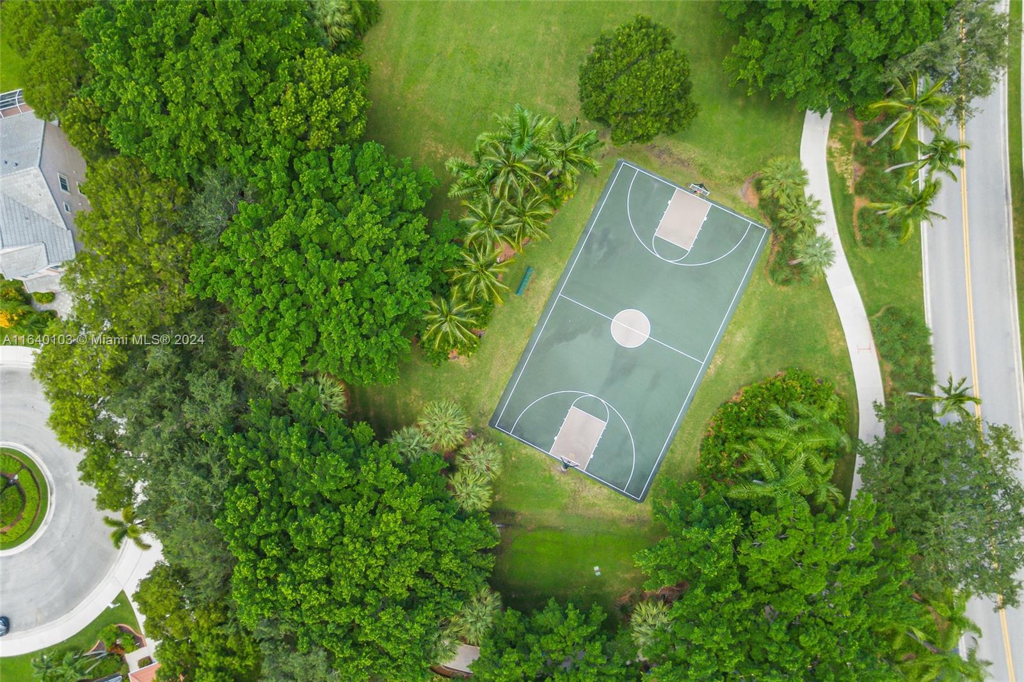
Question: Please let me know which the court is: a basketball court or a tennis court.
basketball court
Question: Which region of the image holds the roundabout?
bottom left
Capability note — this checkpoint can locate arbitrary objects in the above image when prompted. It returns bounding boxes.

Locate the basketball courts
[488,157,771,504]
